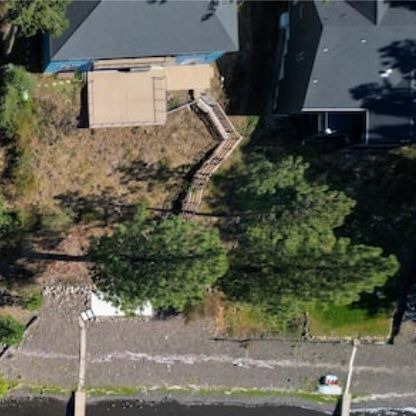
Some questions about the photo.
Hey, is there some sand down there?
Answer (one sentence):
Yes, some sand is visible.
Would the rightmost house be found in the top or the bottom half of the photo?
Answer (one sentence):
Seen from above, the rightmost house lies in the top half of the view.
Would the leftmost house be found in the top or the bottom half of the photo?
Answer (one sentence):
The leftmost house is in the top half of the image.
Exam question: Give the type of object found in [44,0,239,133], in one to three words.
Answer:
house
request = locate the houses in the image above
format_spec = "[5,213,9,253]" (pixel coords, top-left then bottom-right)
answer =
[275,0,416,150]
[44,0,239,133]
